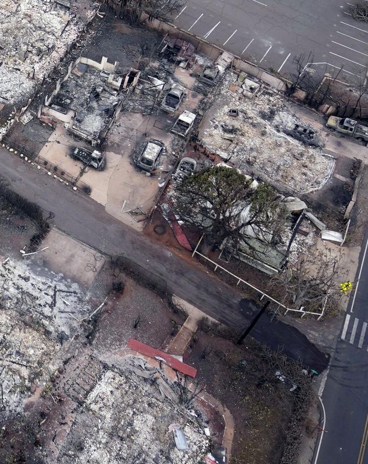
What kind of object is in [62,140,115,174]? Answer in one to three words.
truck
